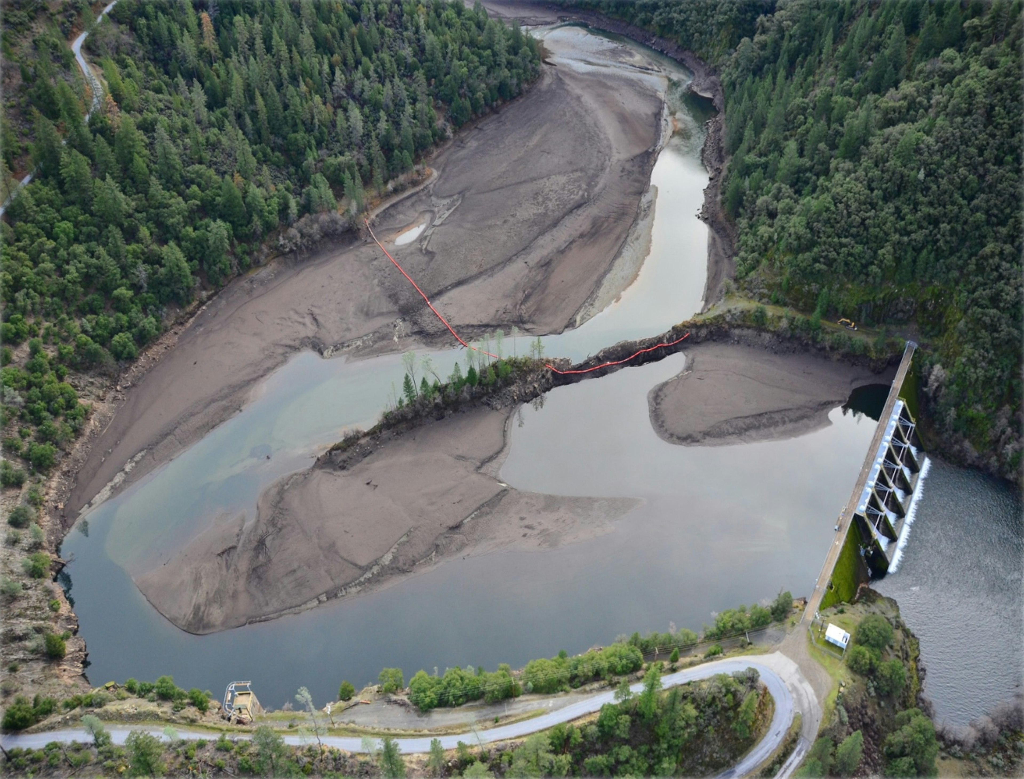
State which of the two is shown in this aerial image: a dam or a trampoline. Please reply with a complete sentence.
Looking from above, you can make out a dam.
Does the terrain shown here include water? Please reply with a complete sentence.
Yes, there's water in this view.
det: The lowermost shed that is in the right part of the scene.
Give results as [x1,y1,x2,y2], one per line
[825,627,851,652]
